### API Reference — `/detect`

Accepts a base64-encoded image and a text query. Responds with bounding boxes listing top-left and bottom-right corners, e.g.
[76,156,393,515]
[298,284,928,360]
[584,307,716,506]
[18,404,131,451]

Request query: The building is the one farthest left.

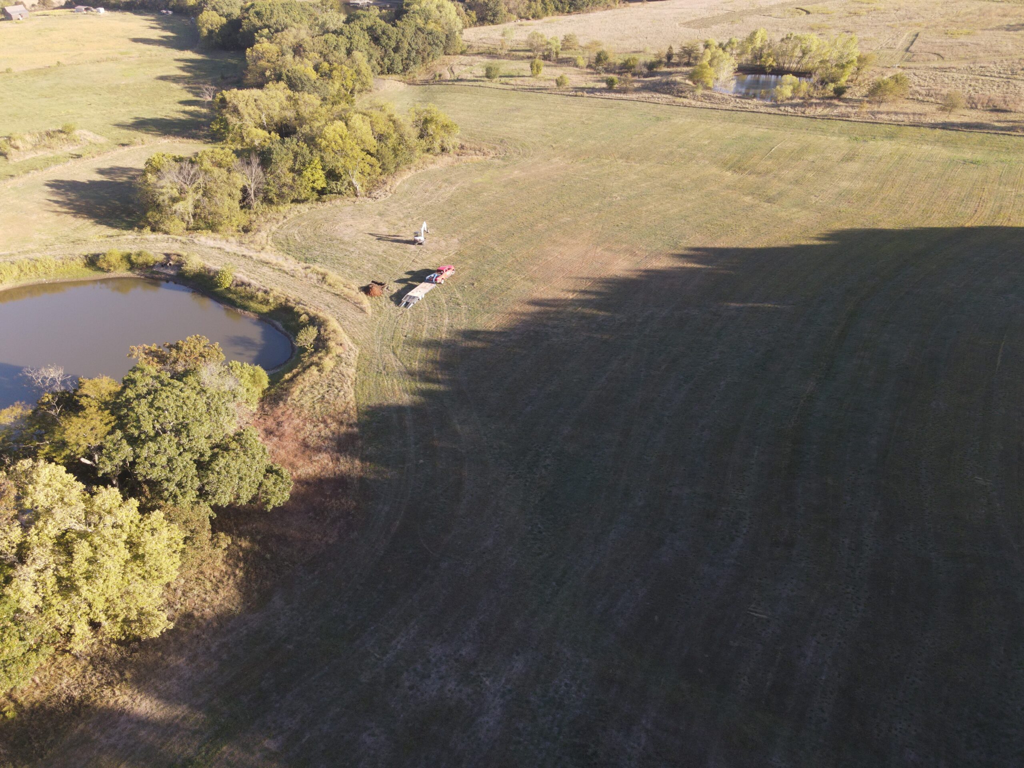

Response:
[8,6,36,20]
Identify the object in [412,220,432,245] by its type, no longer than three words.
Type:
work vehicle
